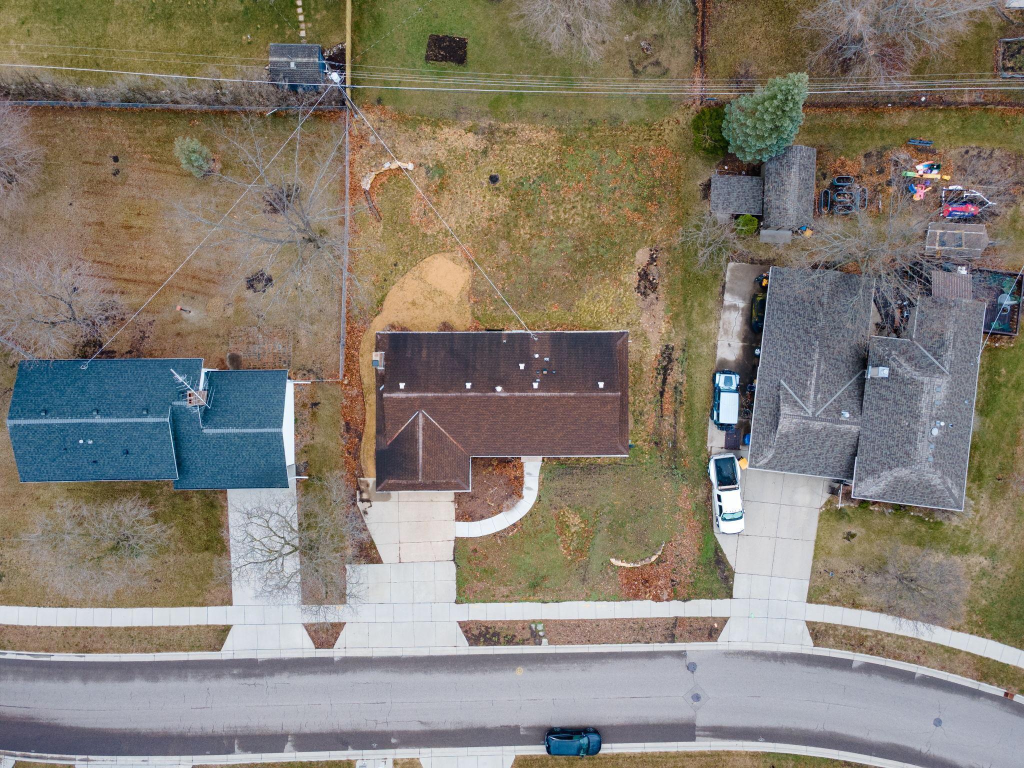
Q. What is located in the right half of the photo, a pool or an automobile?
automobile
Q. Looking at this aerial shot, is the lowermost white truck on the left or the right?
right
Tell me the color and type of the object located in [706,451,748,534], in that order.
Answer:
white truck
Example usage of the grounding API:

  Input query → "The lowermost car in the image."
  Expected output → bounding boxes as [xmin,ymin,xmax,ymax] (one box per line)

[544,728,601,761]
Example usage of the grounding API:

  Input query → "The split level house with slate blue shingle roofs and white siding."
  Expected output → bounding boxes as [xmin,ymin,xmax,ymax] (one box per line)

[5,357,308,491]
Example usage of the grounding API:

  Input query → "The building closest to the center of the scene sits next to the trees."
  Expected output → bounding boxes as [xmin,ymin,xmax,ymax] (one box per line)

[372,326,634,493]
